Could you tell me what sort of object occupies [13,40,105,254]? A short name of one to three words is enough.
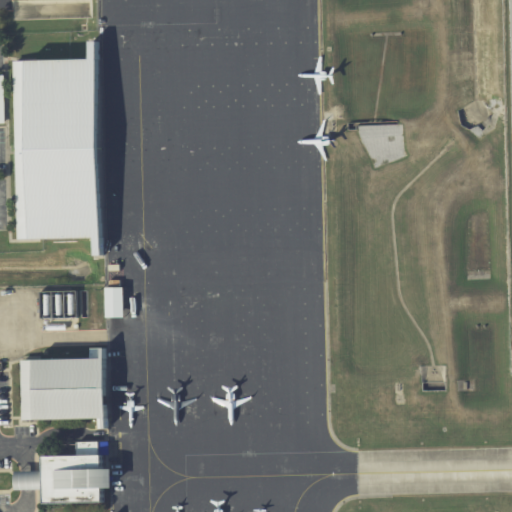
hangar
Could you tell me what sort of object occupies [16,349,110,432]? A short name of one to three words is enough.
hangar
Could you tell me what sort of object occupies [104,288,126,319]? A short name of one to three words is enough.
shed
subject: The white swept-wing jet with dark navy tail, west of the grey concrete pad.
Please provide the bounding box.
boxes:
[297,122,333,162]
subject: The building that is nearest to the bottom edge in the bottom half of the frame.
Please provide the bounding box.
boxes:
[41,456,115,504]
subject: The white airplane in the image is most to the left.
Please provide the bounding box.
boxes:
[118,394,144,428]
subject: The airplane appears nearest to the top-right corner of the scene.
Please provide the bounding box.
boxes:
[298,56,333,95]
